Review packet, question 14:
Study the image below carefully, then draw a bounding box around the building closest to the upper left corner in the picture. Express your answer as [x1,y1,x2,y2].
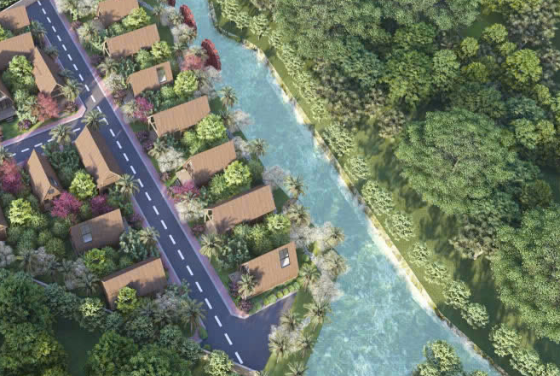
[0,5,37,40]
